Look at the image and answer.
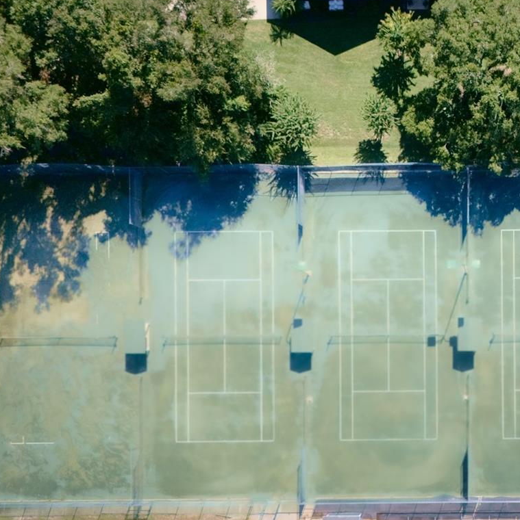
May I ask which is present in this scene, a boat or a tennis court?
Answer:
tennis court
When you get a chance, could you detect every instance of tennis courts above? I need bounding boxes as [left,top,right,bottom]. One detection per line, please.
[141,172,303,500]
[0,172,141,500]
[467,172,520,495]
[303,172,465,500]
